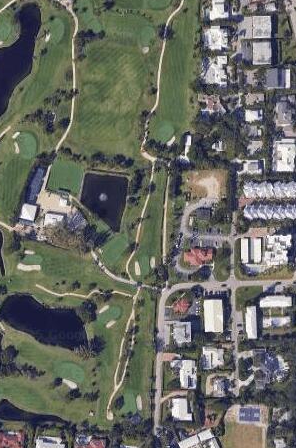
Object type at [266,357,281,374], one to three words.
swimming pool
